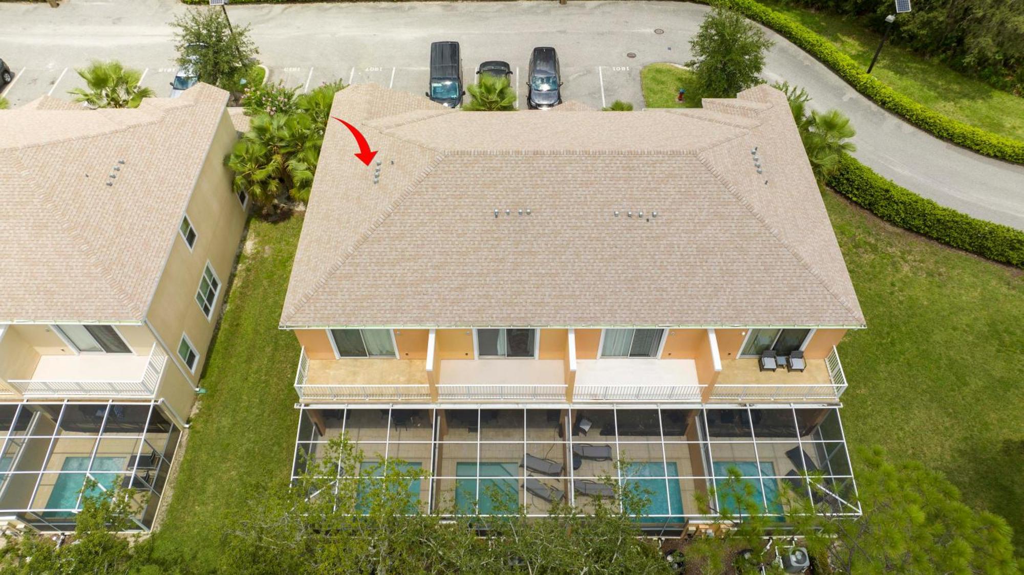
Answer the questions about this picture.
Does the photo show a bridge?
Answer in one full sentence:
No, there isn't any bridge down there.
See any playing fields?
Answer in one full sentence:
No, I can't see a single playing field in this photo.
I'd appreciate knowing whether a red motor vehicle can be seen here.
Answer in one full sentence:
No, the scene contains no red motor vehicle.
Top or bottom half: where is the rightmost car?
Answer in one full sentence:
The rightmost car is in the top half of the image.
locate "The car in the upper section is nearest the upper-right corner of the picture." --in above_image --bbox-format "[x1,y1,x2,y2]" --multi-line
[525,50,566,111]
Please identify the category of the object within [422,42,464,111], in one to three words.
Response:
van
